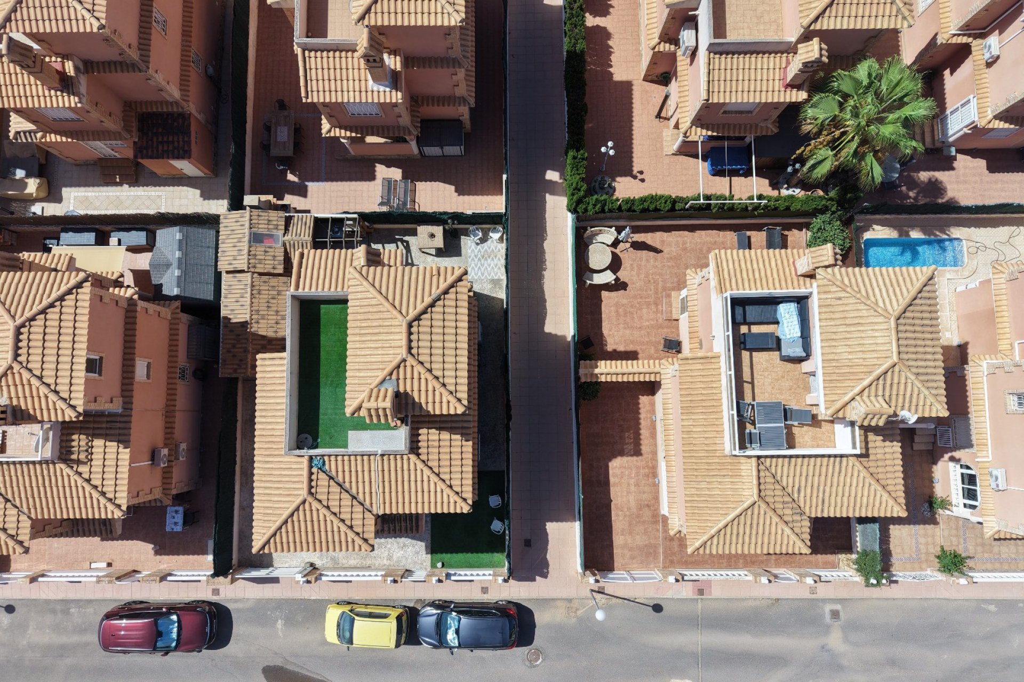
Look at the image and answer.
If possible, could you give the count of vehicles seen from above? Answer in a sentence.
My tally gives 3 vehicles in this view.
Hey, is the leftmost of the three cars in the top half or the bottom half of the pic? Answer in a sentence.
Seen from above, the leftmost of the three cars lies in the bottom half of the view.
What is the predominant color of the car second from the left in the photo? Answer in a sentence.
In this view, the car second from the left is yellow.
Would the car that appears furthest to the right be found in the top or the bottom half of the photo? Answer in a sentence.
The bottom half of the photo is where the car that appears furthest to the right is.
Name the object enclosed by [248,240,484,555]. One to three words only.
house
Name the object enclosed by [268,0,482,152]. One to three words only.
house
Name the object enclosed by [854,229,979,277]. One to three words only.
swimming pool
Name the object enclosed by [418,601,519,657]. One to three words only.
car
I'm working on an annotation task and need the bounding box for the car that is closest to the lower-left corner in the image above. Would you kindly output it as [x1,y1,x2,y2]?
[96,602,221,662]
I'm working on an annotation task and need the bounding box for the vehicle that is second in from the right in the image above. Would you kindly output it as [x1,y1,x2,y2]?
[327,602,411,654]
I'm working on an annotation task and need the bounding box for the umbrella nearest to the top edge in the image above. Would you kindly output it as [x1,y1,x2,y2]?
[653,91,667,122]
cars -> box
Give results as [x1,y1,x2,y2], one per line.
[96,602,221,662]
[327,602,411,654]
[418,601,519,657]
